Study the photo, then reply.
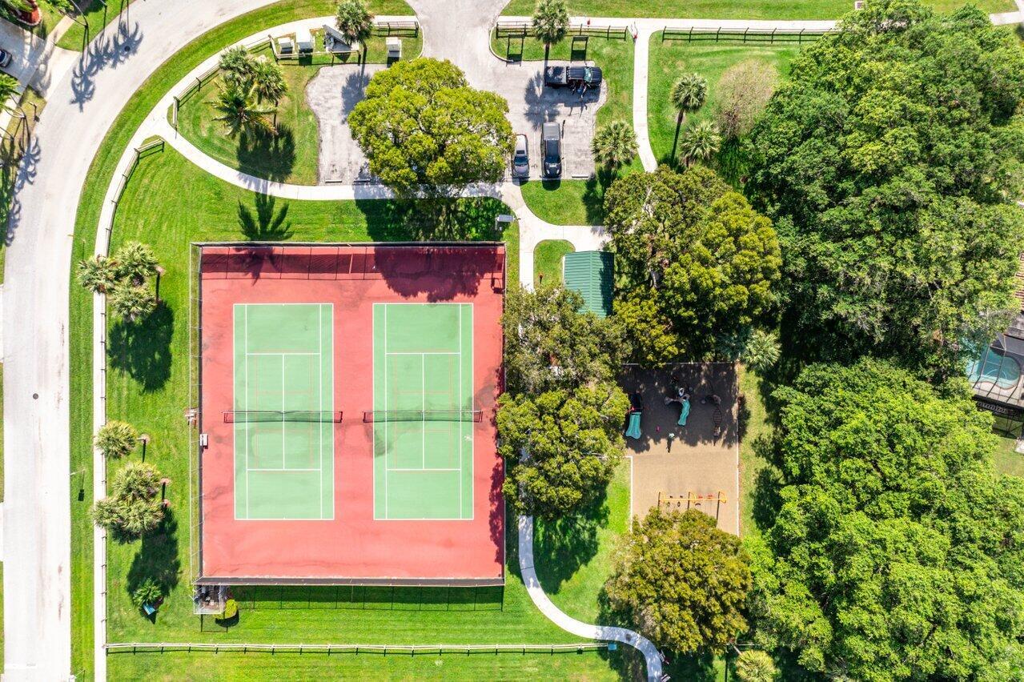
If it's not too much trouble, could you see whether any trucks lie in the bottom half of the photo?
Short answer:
No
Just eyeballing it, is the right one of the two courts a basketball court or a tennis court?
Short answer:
tennis court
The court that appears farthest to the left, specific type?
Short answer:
tennis court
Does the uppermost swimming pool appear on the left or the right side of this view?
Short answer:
right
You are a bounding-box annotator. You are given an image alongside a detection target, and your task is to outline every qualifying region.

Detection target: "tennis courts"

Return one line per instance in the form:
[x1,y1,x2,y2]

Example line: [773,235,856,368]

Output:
[353,246,505,578]
[201,246,353,578]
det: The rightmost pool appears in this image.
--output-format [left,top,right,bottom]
[954,324,1024,407]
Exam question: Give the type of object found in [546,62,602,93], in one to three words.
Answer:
truck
